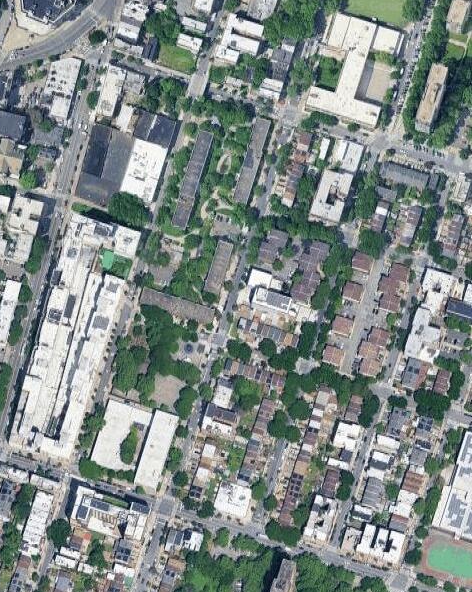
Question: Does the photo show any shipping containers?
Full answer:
No, there's no shipping container here.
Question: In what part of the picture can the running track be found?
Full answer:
Look in the bottom right portion of the view to spot the running track.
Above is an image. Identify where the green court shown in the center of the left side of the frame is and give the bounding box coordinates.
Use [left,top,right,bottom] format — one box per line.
[102,250,133,277]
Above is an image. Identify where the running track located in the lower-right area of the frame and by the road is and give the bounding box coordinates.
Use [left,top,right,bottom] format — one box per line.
[418,529,472,589]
